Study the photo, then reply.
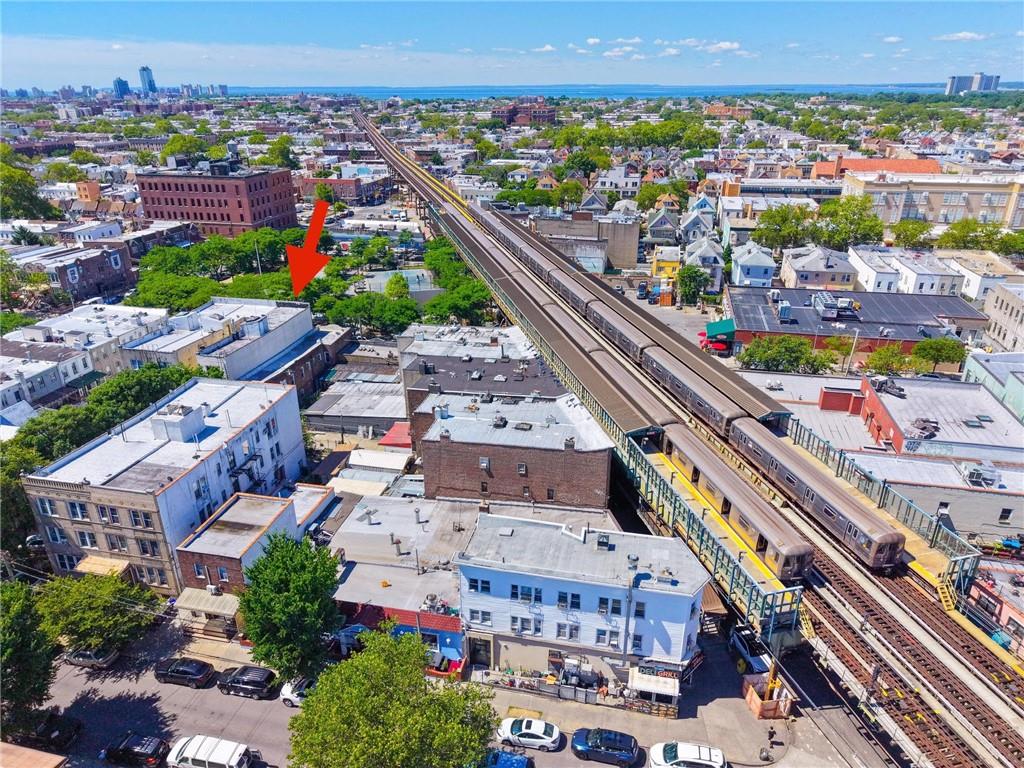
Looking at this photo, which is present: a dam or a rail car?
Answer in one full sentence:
There is a rail car in the scene.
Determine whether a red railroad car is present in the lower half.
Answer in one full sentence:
No, no red railroad car is visible in the lower half.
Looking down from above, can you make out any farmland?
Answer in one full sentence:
No, the picture contains no farmland.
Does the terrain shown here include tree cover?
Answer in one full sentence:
Yes, some tree cover is visible.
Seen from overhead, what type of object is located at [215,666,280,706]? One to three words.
car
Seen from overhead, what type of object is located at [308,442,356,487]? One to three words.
shed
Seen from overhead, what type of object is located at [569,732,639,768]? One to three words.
car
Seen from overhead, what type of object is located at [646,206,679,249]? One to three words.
house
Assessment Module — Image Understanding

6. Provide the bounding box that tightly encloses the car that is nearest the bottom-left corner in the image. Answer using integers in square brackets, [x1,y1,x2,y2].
[18,712,89,754]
